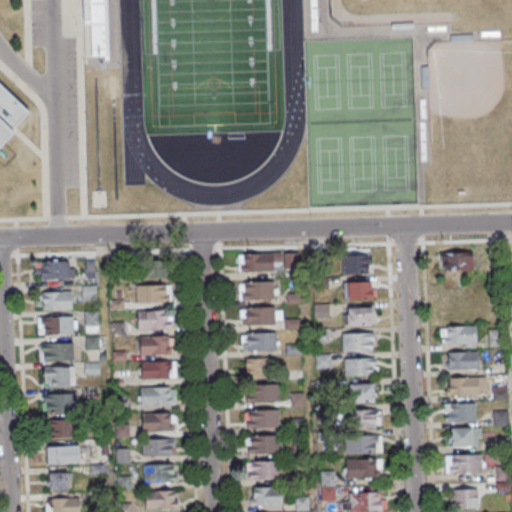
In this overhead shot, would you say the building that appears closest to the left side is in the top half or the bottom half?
top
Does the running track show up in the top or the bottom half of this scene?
top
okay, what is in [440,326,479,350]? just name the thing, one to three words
house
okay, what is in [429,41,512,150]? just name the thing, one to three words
baseball field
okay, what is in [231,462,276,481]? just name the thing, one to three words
house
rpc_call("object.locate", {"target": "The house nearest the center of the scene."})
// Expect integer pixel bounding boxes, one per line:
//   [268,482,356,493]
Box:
[236,252,285,272]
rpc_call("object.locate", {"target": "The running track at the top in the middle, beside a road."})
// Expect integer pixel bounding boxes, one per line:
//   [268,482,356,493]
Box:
[121,0,306,206]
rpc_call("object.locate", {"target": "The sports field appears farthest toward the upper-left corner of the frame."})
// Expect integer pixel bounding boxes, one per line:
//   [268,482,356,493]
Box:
[143,0,284,136]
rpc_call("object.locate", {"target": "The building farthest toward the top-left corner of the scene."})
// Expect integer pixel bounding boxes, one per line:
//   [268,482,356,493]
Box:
[0,81,28,146]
